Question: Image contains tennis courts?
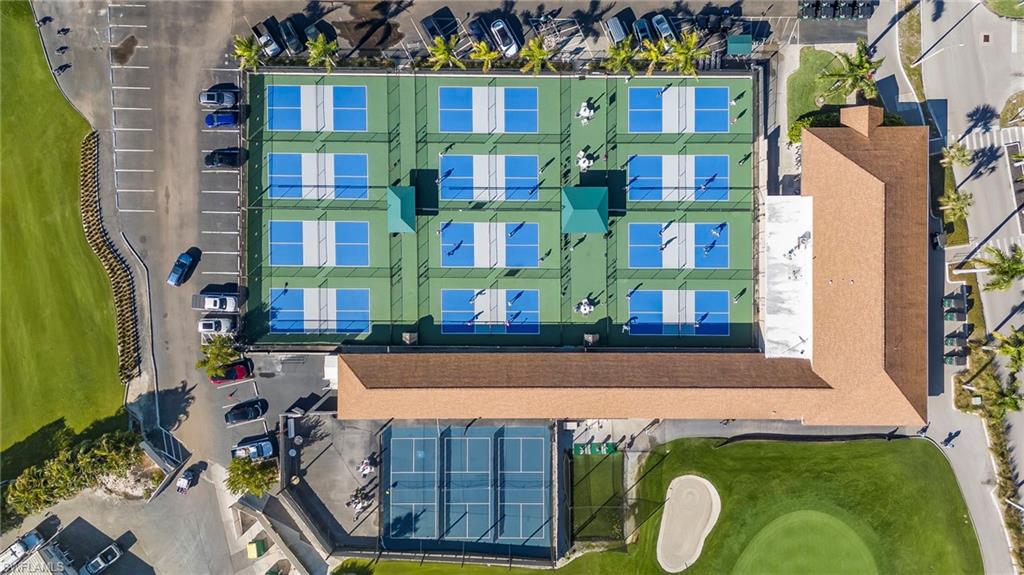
Yes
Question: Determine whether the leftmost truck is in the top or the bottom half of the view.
bottom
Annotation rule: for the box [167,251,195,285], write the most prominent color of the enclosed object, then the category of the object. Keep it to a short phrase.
blue car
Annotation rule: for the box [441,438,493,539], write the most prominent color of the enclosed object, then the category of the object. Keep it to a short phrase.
blue tennis court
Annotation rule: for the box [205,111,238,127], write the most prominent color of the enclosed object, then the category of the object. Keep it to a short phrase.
blue car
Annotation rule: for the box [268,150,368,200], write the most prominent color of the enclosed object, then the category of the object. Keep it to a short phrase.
blue sports court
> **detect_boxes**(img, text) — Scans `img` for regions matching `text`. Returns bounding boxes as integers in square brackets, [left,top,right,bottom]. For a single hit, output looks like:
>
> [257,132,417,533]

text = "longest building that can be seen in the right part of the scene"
[337,103,929,426]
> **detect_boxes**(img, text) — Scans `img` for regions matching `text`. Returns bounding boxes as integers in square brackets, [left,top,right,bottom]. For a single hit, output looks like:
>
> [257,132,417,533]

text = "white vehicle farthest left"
[0,531,45,574]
